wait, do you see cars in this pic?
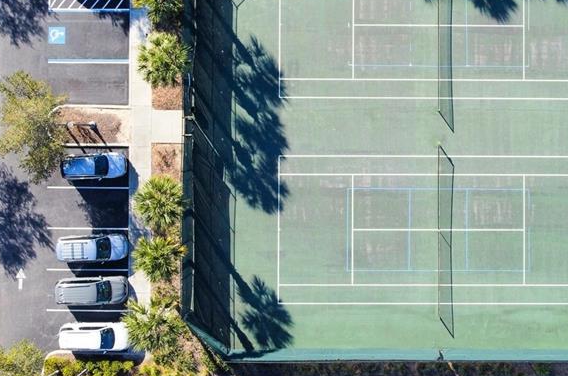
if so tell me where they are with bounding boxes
[59,231,131,263]
[62,149,130,180]
[58,276,130,308]
[61,320,134,353]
